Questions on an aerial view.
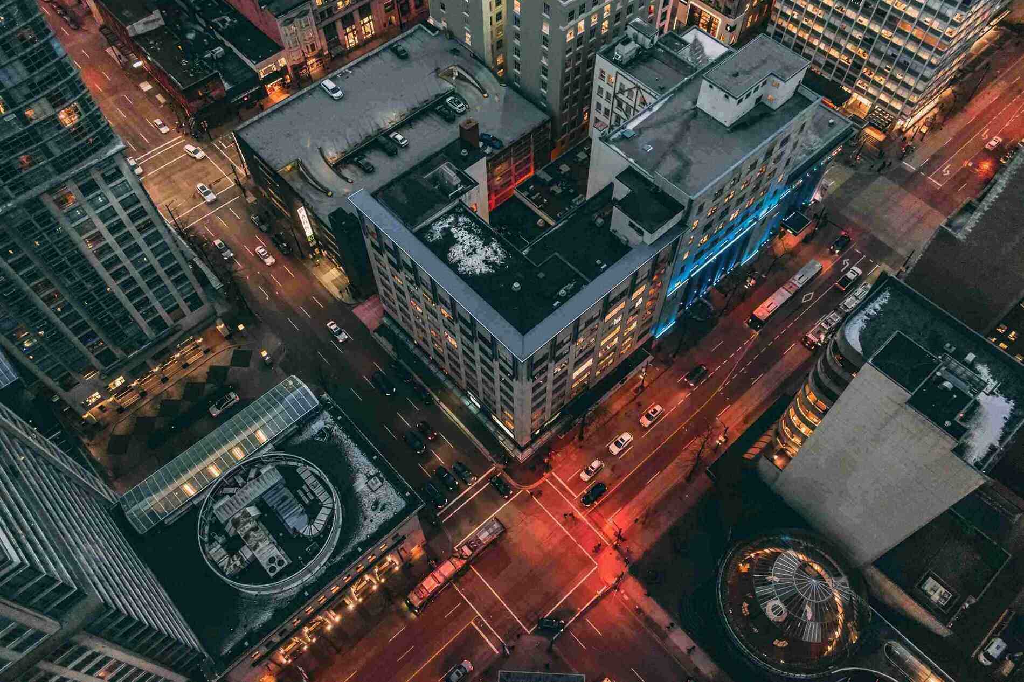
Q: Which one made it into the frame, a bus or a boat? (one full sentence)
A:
Visible in the photo is a bus.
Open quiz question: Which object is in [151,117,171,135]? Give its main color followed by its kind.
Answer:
white car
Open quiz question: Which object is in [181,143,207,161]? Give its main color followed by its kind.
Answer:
white car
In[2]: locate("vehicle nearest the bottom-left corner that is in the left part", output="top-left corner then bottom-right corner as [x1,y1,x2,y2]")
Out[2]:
[208,391,241,418]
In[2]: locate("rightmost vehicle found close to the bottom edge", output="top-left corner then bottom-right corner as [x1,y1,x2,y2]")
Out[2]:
[974,635,1012,671]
